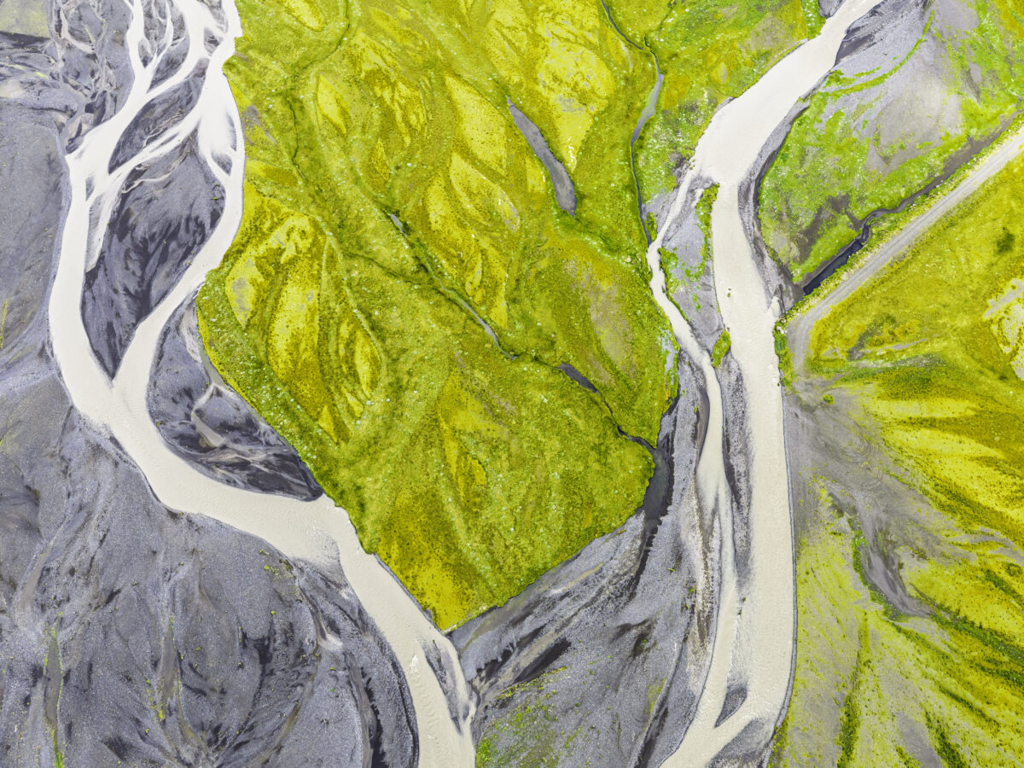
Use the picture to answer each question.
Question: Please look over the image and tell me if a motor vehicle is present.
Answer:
No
